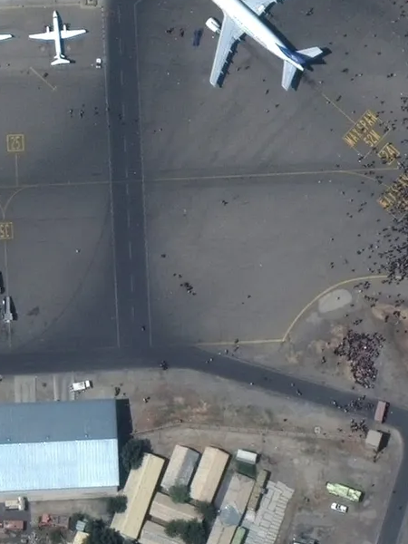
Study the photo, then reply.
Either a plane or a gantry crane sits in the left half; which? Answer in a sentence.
It is a plane that can be seen in the left half.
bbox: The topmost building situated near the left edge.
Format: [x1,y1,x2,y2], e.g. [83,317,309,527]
[0,398,119,502]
